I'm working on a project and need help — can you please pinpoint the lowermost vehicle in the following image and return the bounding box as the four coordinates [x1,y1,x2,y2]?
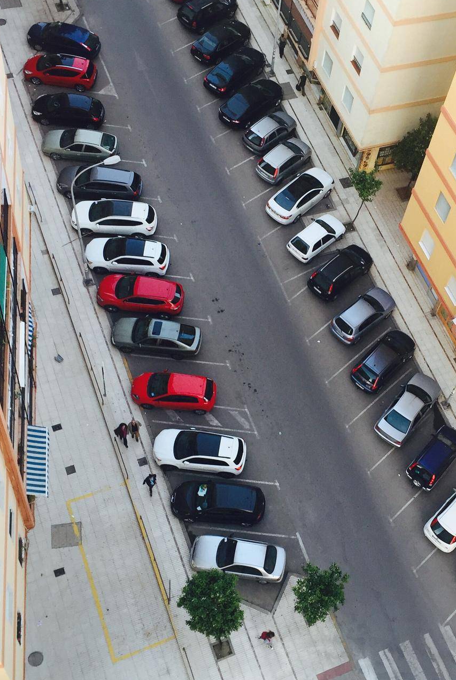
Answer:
[190,536,289,588]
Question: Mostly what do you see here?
paved ground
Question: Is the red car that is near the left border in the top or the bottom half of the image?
top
